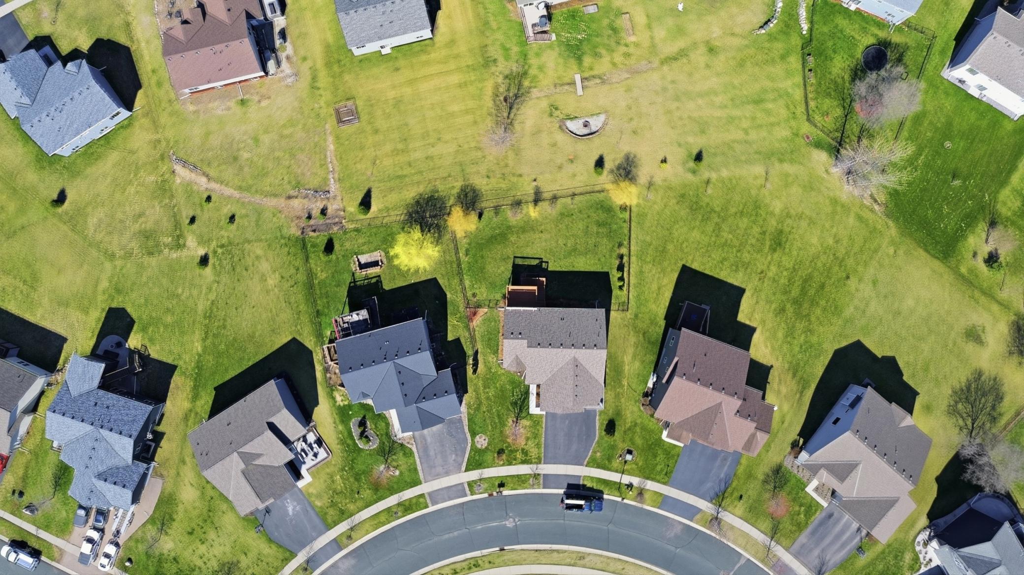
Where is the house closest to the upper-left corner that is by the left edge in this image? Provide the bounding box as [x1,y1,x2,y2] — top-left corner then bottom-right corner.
[0,40,134,158]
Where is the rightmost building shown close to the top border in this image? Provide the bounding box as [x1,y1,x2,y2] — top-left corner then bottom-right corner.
[950,2,1024,114]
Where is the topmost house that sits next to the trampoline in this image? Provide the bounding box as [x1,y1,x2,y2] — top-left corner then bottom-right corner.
[842,0,922,33]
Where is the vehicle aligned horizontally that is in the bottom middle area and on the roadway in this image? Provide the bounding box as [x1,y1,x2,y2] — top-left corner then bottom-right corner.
[564,498,605,516]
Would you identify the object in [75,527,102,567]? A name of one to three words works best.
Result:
truck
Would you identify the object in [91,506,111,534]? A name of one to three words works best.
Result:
car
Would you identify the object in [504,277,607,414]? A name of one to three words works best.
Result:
house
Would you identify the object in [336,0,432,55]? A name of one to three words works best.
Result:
house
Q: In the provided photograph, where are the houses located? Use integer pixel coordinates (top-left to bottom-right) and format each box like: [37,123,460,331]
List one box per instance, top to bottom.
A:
[157,0,270,102]
[336,0,432,55]
[515,0,557,45]
[842,0,922,33]
[950,2,1024,114]
[0,40,134,158]
[504,277,607,414]
[321,298,461,434]
[641,302,775,458]
[41,353,169,509]
[188,379,314,517]
[792,381,932,544]
[925,510,1024,575]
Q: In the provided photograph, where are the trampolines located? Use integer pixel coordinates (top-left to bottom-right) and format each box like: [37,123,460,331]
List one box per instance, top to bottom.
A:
[863,42,897,72]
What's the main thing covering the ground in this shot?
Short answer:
grass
